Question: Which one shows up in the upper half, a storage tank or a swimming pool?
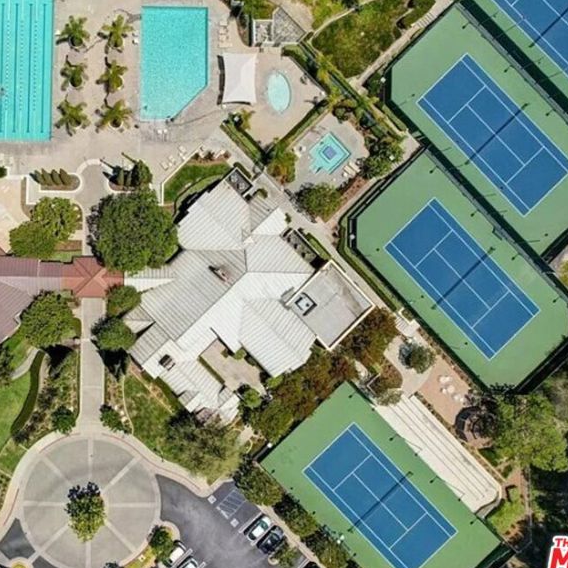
swimming pool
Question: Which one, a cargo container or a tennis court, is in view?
tennis court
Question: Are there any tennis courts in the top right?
Yes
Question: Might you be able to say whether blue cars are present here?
No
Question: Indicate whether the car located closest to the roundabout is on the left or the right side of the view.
left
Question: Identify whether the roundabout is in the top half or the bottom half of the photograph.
bottom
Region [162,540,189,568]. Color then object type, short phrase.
white car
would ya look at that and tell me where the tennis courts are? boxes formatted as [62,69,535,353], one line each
[389,5,568,250]
[364,151,568,391]
[267,388,501,568]
[473,0,568,102]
